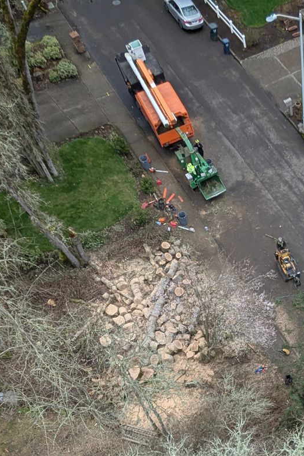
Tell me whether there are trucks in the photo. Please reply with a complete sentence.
Yes, a truck appears in the view.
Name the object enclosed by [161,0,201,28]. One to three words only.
car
